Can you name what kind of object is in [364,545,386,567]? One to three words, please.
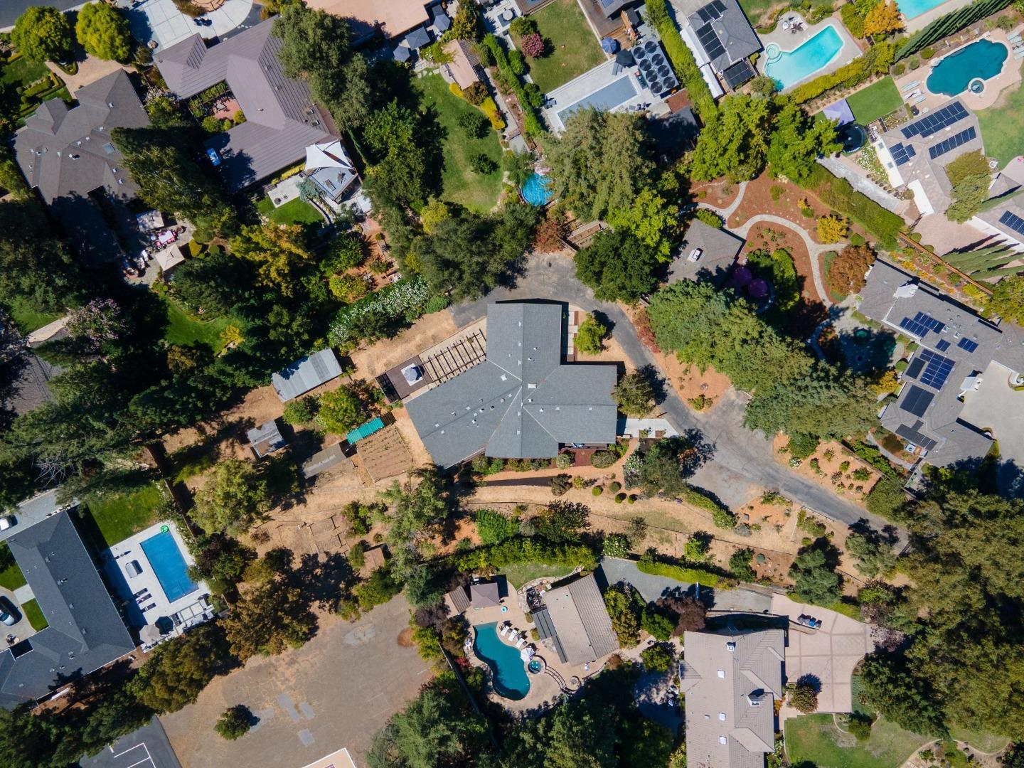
shed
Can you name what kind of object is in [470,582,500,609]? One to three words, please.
gazebo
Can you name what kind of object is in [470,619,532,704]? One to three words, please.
swimming pool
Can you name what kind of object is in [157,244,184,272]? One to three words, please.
umbrella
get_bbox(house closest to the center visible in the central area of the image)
[404,303,618,469]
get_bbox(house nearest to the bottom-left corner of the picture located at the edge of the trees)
[0,510,145,707]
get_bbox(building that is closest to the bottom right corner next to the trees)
[678,622,786,768]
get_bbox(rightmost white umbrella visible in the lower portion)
[520,646,534,661]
